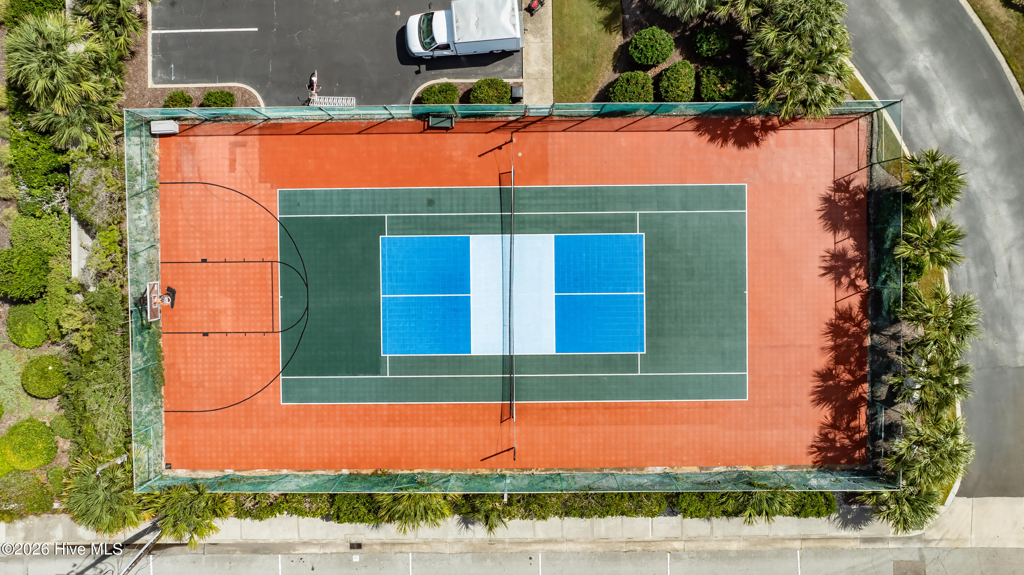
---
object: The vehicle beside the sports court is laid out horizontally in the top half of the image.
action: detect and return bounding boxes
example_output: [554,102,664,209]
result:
[401,0,528,62]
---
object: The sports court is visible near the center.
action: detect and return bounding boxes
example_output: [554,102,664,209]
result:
[159,115,867,470]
